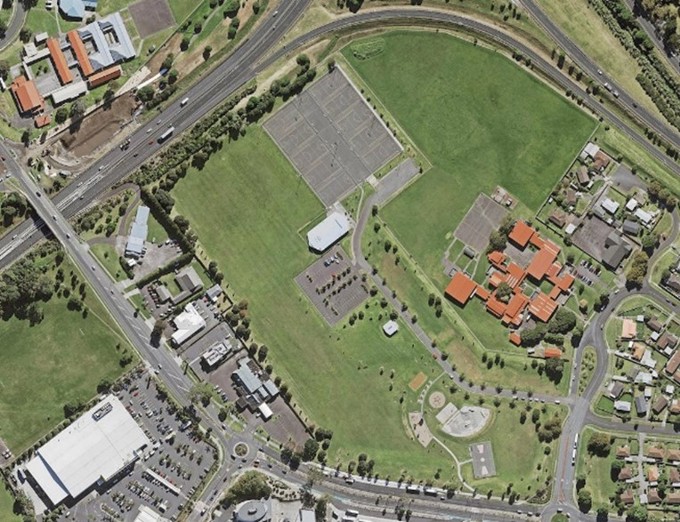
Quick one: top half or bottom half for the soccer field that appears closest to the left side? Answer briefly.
bottom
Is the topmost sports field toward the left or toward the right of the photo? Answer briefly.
right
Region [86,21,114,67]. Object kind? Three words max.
building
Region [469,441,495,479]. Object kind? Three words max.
basketball court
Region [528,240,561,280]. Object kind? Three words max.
building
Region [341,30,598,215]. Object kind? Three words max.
sports field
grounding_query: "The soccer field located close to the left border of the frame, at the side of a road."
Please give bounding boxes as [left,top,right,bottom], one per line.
[0,312,139,455]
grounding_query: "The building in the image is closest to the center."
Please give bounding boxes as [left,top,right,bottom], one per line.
[307,211,352,251]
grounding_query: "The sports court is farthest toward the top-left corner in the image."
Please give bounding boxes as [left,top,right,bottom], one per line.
[128,0,176,39]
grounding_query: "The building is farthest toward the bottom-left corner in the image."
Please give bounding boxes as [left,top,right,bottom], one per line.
[25,458,68,505]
